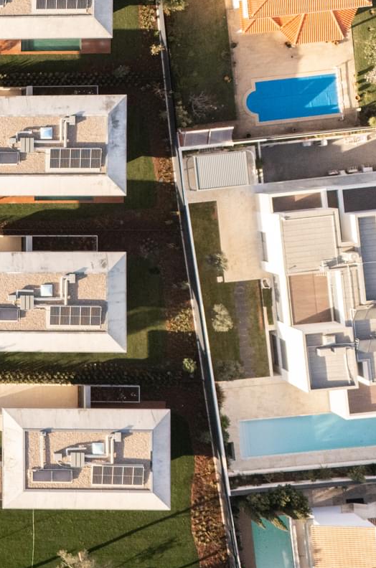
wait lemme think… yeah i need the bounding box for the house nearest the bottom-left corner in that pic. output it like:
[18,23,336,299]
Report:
[0,409,171,510]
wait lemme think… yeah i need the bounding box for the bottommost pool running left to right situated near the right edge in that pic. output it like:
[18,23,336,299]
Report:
[239,418,376,458]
